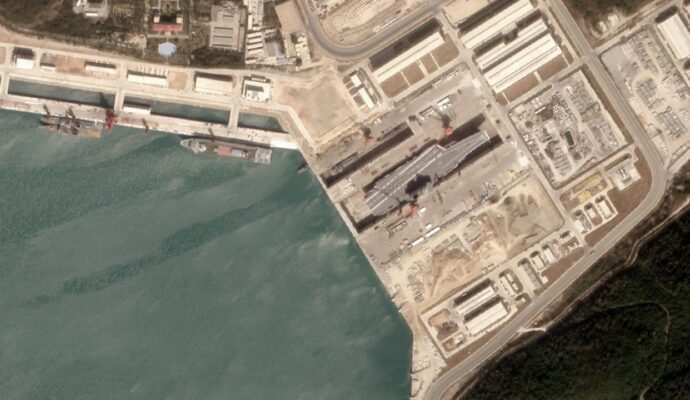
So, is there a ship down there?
Yes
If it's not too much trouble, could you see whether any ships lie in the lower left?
No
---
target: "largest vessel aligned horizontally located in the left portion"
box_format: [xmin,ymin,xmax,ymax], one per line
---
[180,139,272,163]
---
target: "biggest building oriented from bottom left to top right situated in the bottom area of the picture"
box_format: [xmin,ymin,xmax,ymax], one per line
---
[465,300,508,335]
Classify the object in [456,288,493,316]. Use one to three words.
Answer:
building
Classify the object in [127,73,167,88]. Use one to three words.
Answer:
building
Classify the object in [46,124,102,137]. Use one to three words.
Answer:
ship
